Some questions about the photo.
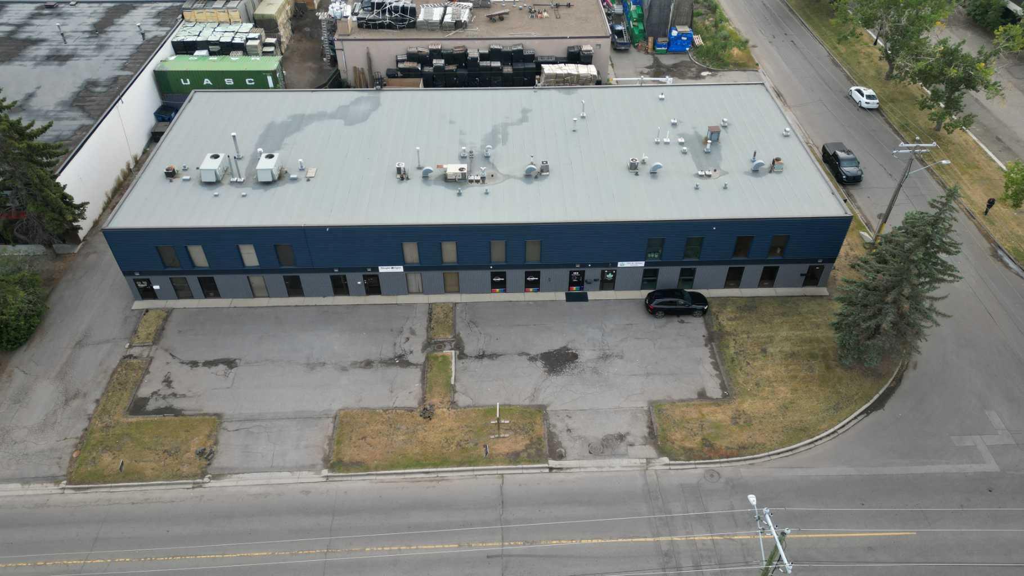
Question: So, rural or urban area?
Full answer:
From above, the setting appears urban.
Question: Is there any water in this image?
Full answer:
No, water can't be seen anywhere here.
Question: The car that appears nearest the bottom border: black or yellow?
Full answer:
From above, the car that appears nearest the bottom border appears black.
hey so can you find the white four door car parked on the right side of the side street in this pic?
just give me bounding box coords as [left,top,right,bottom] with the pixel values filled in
[848,86,878,106]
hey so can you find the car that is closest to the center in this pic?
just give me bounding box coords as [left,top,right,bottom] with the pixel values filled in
[645,288,709,318]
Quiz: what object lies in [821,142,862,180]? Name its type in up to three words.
truck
